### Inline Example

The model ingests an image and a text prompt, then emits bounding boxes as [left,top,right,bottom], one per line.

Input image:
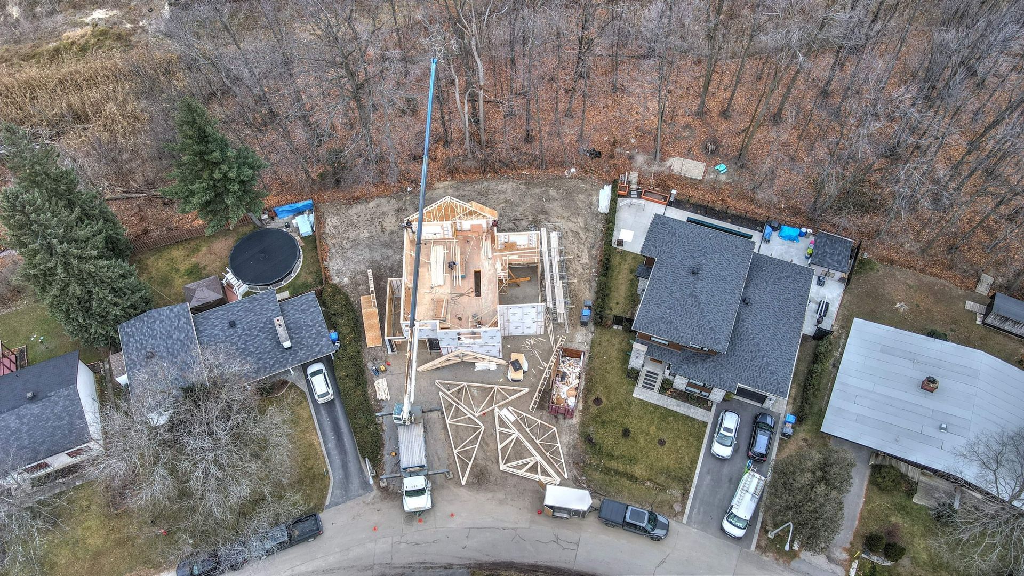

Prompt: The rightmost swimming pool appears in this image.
[686,216,754,240]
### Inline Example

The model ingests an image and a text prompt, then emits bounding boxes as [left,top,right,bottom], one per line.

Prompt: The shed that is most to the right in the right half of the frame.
[972,292,1024,355]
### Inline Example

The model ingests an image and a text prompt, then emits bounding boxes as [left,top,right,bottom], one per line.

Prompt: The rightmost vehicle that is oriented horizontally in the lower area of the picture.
[594,497,671,541]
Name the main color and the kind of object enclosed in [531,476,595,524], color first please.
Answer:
white trailer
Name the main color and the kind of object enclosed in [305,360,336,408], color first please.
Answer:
white car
